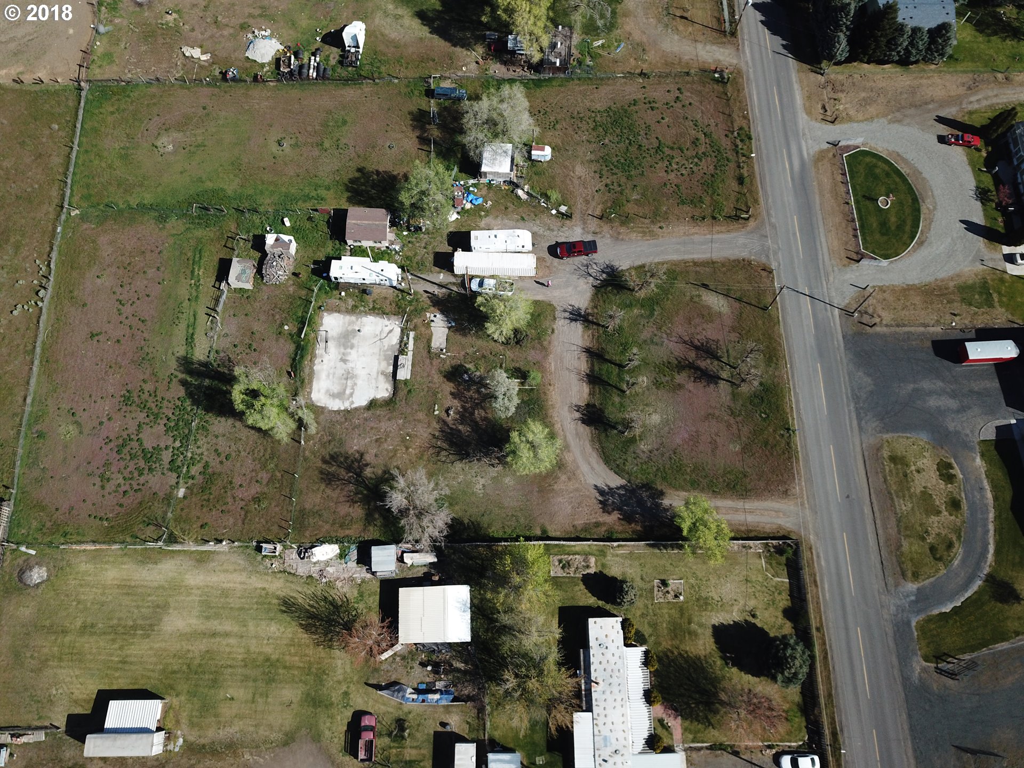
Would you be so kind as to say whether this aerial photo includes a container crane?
No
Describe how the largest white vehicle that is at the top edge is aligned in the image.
vertically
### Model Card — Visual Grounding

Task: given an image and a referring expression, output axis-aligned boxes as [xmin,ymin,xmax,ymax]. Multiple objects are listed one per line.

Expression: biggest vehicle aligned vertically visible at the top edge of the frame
[342,24,362,71]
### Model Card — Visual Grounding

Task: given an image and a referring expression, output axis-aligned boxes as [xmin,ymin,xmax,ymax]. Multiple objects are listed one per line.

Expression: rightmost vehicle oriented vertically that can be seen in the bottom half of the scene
[356,713,376,765]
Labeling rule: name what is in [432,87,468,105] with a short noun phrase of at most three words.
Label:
vehicle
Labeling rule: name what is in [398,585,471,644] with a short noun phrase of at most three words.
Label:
building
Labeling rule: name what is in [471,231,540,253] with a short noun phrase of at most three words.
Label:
trailer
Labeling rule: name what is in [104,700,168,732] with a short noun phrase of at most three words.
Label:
shed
